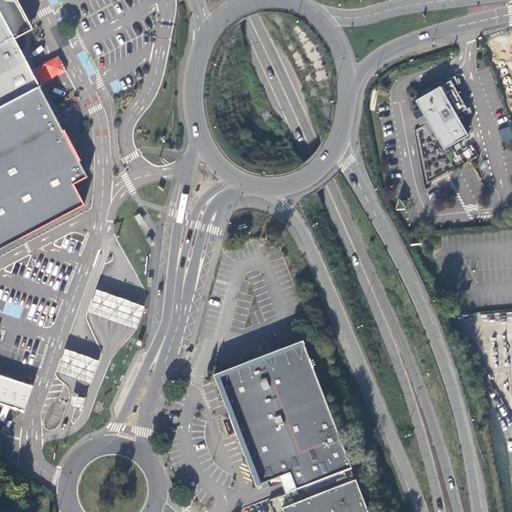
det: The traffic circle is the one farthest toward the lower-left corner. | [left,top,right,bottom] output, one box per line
[52,432,176,512]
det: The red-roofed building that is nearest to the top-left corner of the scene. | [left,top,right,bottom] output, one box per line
[34,56,66,85]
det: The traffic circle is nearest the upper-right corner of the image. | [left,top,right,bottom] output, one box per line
[182,0,356,198]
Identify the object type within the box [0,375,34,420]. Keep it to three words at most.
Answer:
building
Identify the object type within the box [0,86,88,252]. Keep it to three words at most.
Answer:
building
